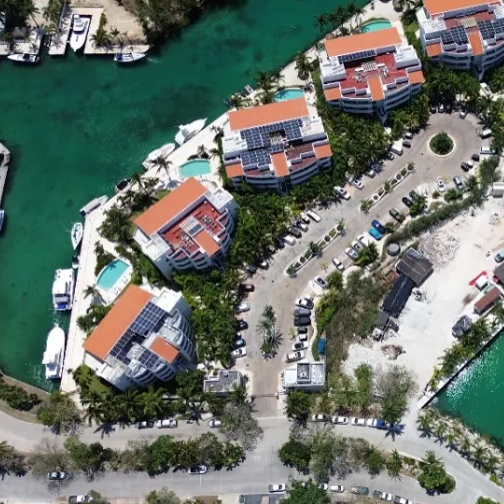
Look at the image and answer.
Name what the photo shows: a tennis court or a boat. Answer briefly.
boat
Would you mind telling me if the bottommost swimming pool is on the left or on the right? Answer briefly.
left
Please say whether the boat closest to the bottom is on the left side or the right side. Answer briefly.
left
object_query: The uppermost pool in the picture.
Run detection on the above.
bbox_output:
[360,19,393,33]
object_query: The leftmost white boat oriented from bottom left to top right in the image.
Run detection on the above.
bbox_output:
[77,197,109,218]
